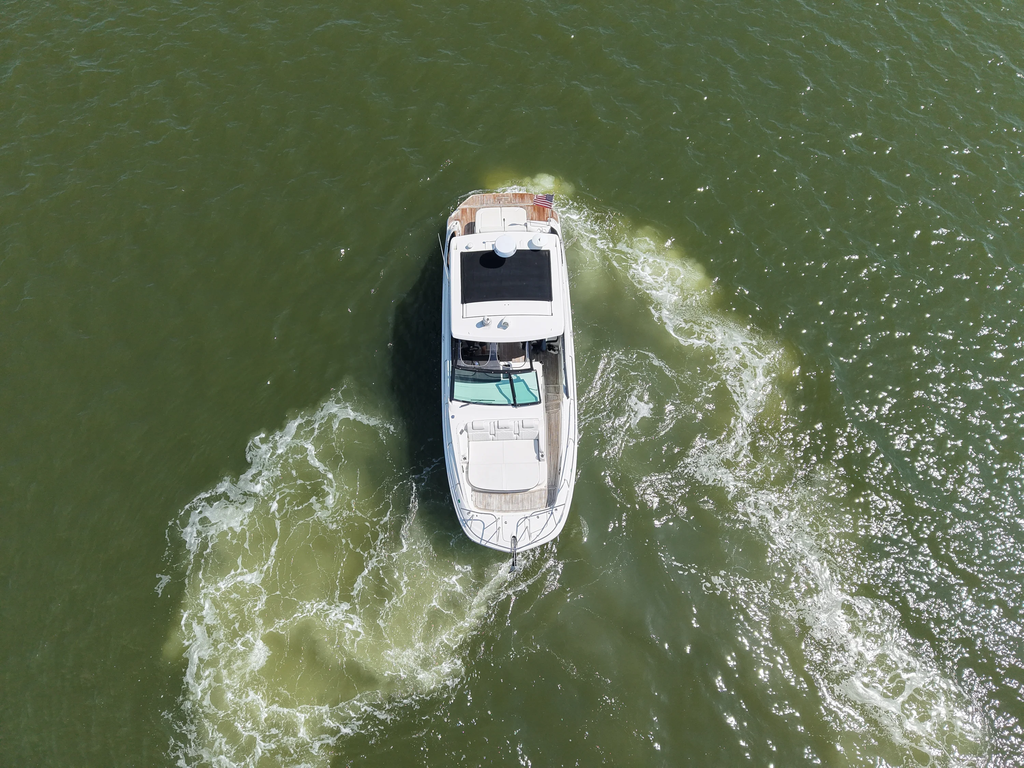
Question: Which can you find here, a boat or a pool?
boat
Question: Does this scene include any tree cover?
No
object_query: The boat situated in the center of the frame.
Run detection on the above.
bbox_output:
[438,193,578,561]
